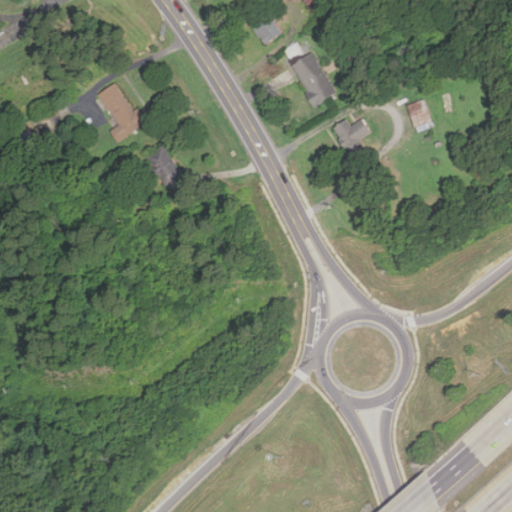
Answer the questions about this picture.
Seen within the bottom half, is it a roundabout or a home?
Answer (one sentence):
The feature located within the bottom half is a roundabout.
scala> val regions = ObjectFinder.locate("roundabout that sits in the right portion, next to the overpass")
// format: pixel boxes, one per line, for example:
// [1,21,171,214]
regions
[307,236,414,498]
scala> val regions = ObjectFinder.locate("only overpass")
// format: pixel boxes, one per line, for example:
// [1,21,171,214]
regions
[374,470,441,512]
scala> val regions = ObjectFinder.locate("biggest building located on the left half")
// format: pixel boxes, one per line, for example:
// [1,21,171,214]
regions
[95,84,140,142]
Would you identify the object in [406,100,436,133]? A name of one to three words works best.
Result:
barn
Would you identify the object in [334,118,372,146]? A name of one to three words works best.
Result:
house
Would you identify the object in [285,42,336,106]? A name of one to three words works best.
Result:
house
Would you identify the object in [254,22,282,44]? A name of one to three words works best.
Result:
shed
